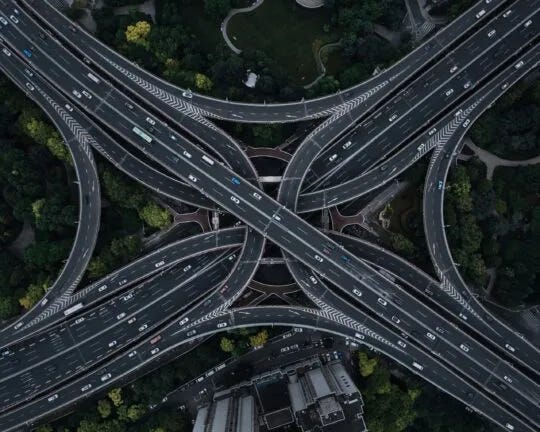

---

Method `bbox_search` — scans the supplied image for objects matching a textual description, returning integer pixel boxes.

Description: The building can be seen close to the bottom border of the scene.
[190,352,369,432]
